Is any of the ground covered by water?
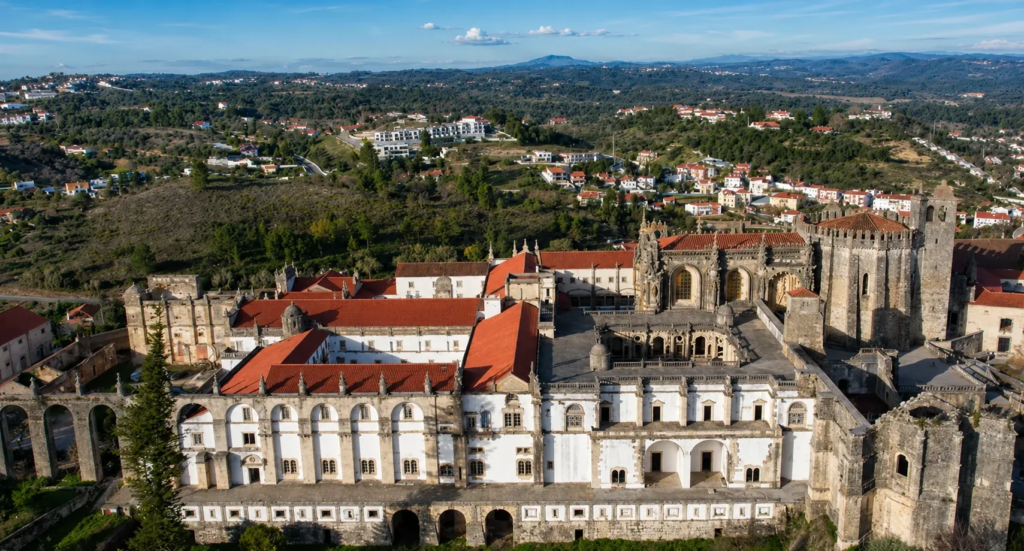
No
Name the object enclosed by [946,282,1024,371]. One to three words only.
building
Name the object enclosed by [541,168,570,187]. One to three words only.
house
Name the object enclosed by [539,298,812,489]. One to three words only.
building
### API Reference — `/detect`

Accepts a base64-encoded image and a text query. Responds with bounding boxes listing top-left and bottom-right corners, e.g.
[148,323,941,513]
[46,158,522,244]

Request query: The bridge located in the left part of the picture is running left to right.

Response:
[0,366,465,491]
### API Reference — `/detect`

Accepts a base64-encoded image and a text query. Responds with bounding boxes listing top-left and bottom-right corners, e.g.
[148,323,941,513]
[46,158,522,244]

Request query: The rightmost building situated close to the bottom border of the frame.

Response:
[853,388,1024,551]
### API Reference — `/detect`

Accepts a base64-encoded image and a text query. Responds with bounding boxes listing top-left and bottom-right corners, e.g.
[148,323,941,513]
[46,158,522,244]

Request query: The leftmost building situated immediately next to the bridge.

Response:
[0,303,61,384]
